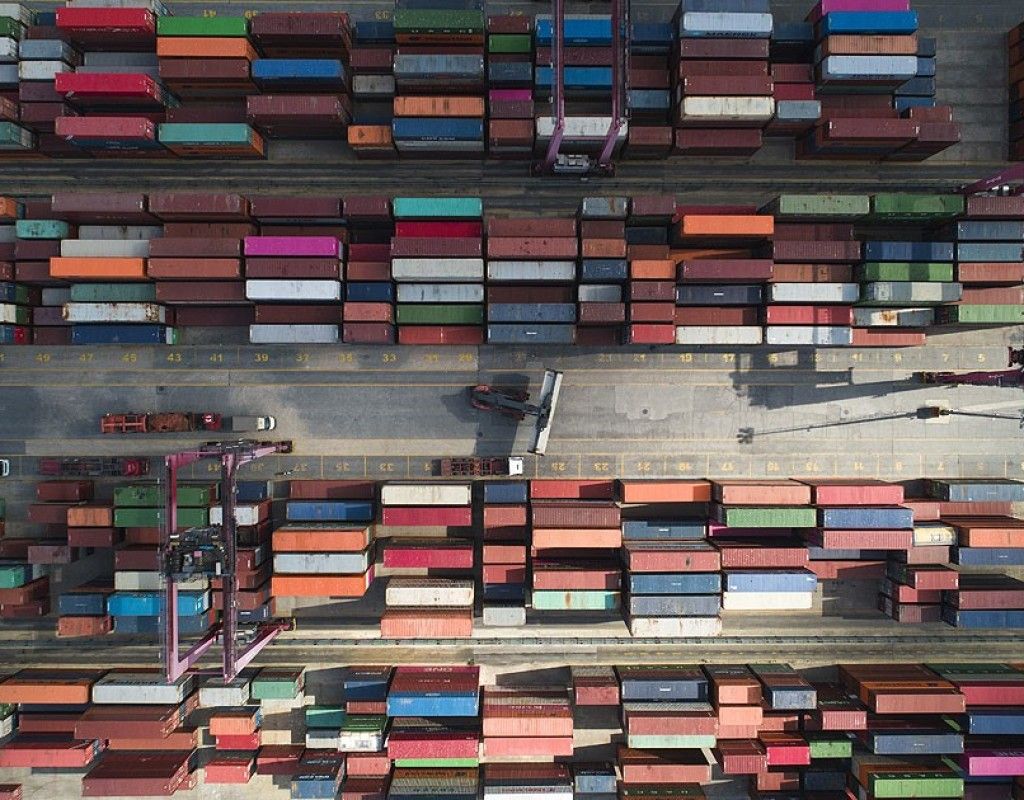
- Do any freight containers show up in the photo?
Yes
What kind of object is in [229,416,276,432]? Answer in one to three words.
vehicle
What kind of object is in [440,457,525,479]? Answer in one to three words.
truck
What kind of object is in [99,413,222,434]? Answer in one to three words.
truck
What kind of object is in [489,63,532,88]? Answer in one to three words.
shipping container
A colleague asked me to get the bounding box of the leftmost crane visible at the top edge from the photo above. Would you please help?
[530,0,629,176]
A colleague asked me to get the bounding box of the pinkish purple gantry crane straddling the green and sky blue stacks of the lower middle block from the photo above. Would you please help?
[162,439,295,683]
